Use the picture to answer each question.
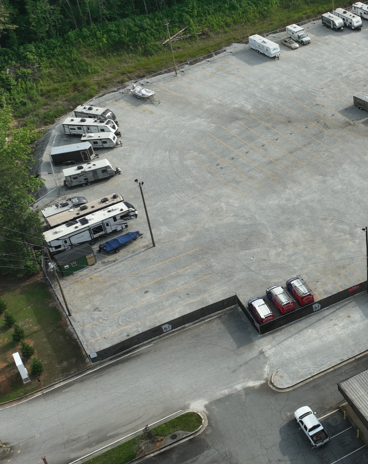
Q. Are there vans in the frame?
Yes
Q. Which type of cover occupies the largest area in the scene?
paved ground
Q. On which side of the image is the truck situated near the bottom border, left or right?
right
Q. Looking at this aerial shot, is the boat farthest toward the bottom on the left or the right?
left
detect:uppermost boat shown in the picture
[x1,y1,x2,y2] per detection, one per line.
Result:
[132,83,158,96]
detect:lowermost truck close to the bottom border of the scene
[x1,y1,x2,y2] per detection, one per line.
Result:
[295,406,331,452]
